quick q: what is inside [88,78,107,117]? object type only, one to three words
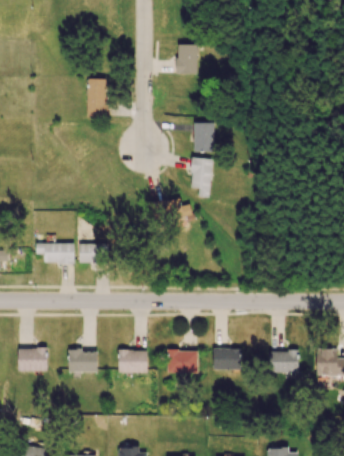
house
